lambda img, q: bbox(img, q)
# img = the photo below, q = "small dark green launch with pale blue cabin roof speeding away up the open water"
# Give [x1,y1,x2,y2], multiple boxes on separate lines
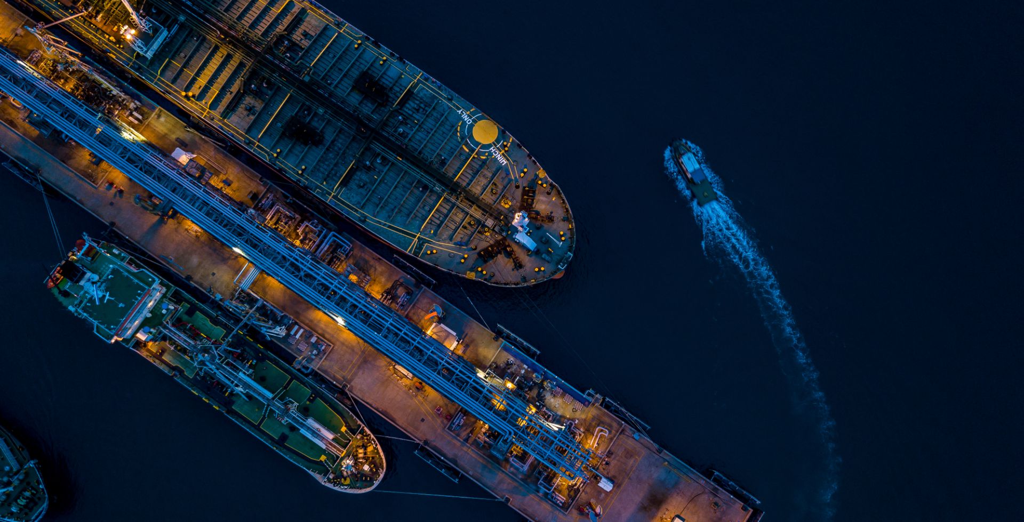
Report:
[675,138,715,206]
